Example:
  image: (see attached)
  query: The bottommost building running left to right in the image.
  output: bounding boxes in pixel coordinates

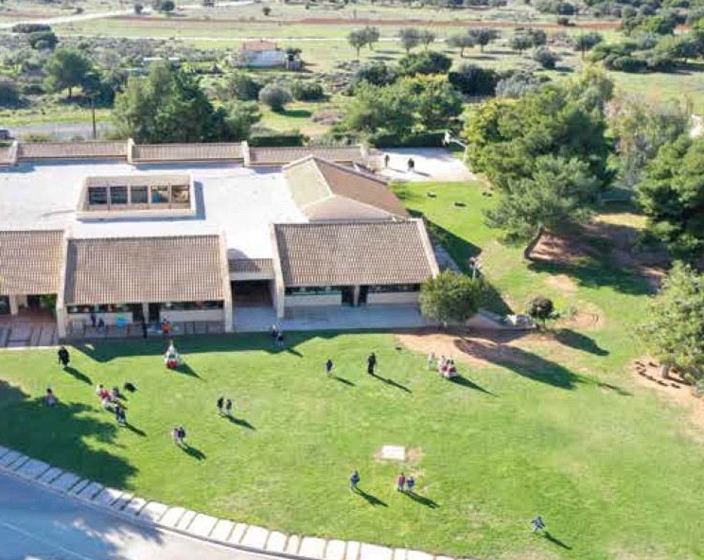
[0,134,449,346]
